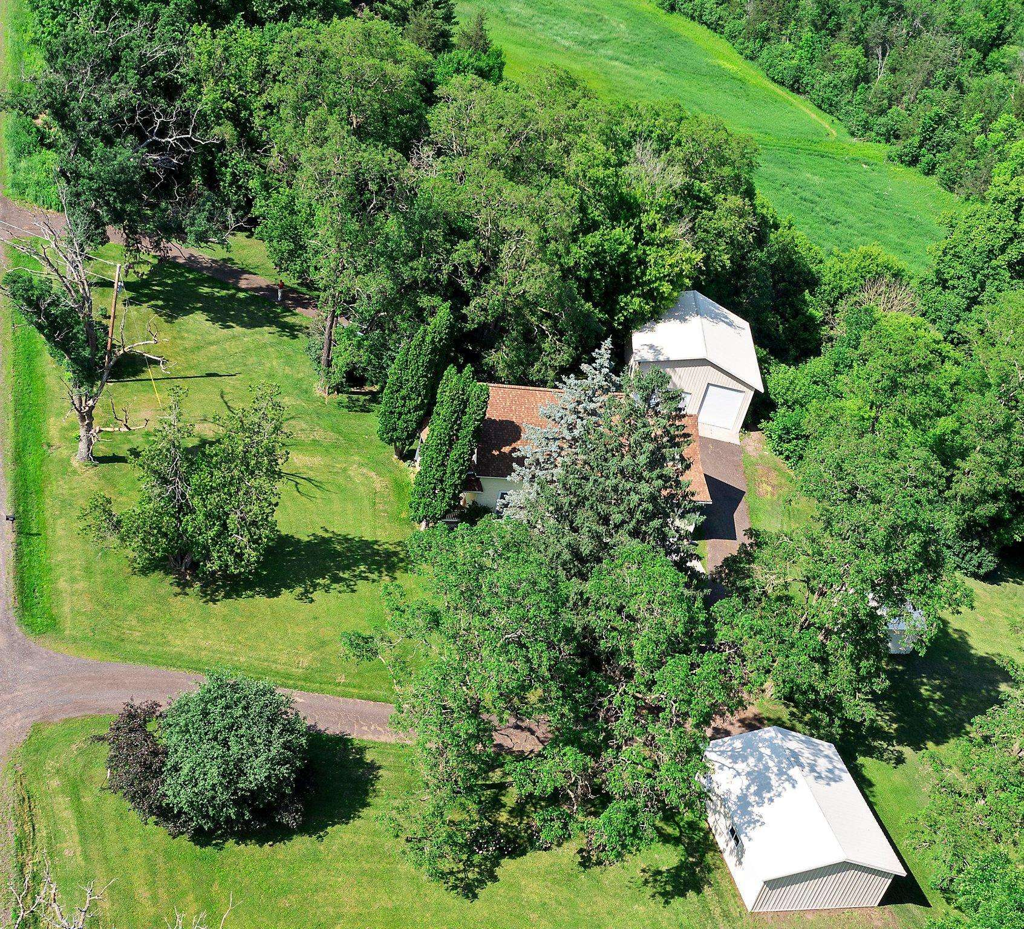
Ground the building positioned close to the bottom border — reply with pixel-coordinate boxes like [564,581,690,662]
[695,728,906,914]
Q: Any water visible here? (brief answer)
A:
No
